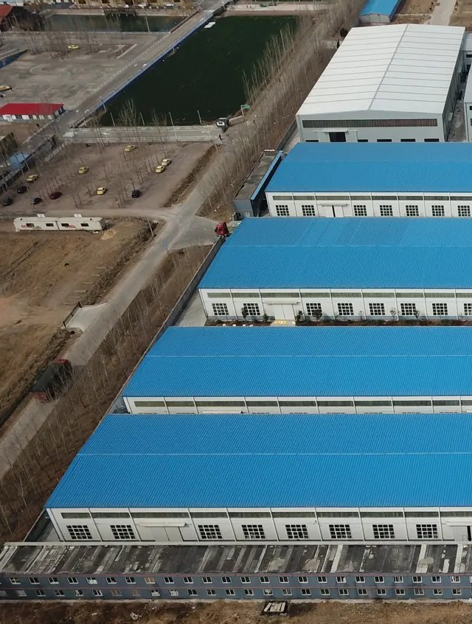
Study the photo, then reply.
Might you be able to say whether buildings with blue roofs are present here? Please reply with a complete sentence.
Yes, the image includes a building with a blue roof.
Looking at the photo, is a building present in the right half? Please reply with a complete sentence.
Yes, you'll find a building in the right half.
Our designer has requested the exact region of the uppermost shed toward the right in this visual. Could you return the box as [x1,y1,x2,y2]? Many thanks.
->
[357,0,404,22]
